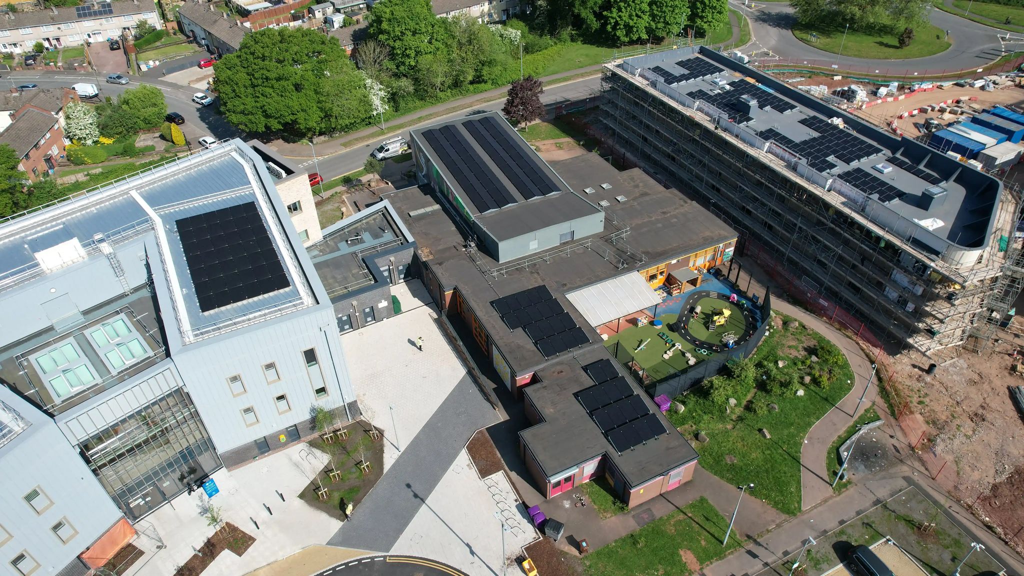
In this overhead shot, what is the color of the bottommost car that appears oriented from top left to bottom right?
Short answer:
black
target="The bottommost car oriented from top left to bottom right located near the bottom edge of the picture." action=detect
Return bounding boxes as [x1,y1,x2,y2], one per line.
[838,531,900,576]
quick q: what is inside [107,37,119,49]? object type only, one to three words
vehicle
